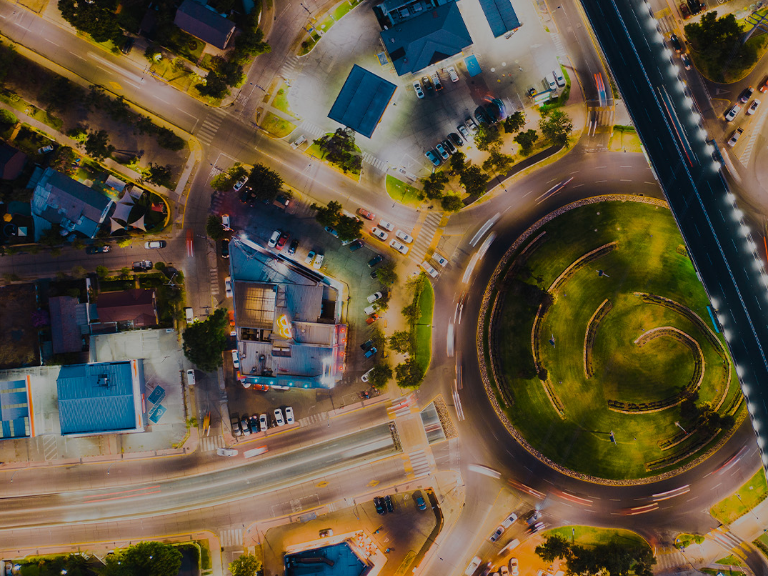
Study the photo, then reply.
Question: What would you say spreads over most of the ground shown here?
paved ground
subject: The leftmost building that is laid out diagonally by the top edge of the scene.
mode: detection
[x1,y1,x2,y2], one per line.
[174,0,234,52]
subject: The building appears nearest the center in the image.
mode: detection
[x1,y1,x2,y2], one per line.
[229,236,348,388]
